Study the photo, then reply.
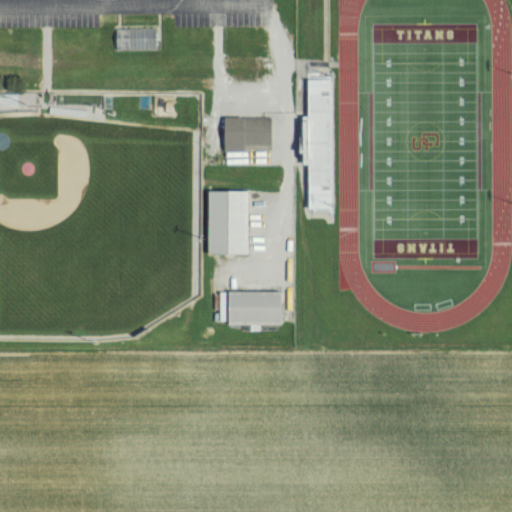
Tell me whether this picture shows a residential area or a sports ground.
sports ground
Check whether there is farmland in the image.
Yes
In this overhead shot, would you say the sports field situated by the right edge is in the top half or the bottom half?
top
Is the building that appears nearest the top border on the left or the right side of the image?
left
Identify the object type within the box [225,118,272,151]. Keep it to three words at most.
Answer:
shed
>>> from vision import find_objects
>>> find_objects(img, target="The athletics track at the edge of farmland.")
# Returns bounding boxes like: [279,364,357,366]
[340,0,510,332]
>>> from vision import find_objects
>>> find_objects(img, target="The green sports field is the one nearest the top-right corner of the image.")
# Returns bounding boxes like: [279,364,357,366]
[358,0,492,312]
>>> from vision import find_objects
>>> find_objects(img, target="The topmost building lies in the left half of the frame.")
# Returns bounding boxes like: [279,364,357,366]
[117,28,157,50]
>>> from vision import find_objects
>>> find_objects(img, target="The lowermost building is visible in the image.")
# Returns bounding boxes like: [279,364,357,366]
[229,292,282,332]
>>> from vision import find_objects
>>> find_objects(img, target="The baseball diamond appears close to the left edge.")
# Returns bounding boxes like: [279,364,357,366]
[0,116,199,338]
